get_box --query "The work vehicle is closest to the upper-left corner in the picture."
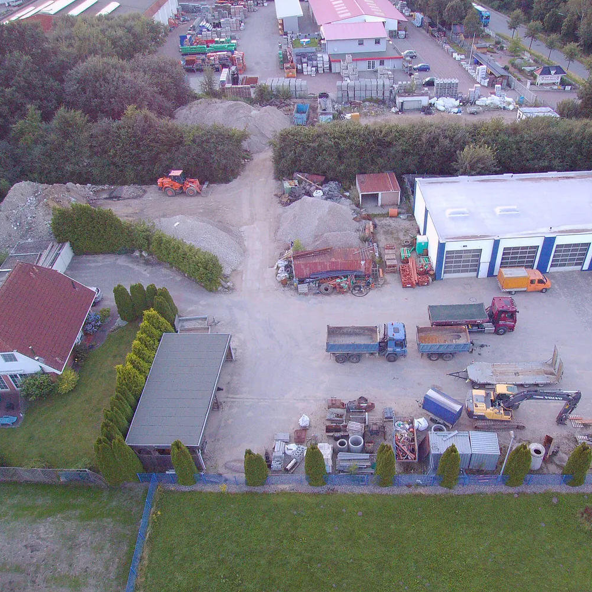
[158,168,211,197]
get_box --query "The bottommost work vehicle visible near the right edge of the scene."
[464,382,578,431]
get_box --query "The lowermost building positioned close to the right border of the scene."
[414,170,592,279]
